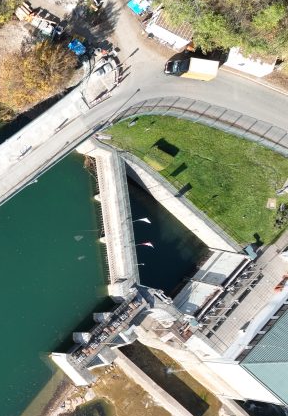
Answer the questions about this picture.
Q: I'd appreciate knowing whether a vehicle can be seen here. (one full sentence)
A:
Yes, I can see a vehicle in this picture.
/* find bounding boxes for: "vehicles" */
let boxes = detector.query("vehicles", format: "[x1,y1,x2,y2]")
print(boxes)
[16,0,71,40]
[164,53,229,80]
